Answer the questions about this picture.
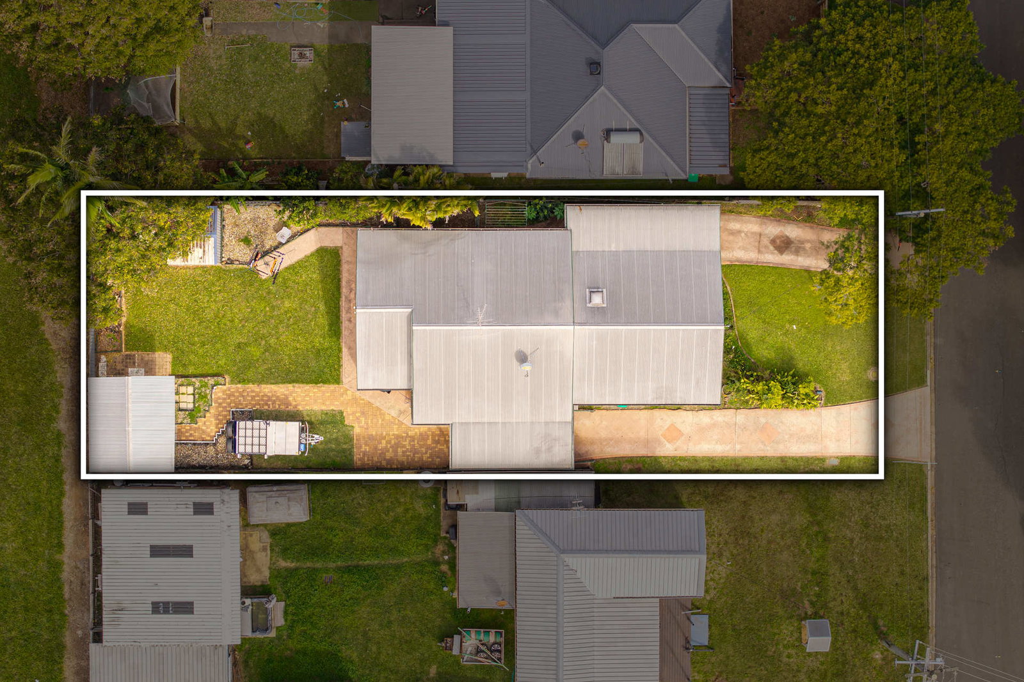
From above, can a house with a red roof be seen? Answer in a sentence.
No, I can't see a single house with a red roof in this photo.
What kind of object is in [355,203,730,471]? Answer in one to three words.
house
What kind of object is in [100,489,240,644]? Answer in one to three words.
shed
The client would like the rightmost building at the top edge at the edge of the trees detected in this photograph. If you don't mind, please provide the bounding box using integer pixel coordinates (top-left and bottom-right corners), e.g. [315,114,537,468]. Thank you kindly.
[370,0,735,179]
